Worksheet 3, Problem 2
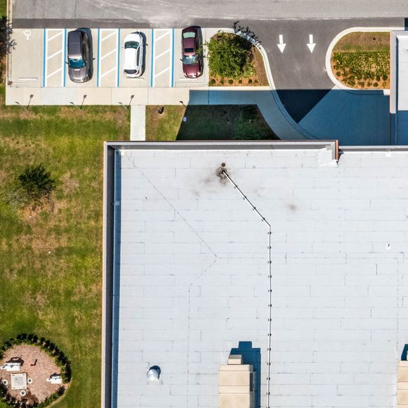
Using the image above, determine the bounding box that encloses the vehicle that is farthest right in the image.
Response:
[180,27,205,79]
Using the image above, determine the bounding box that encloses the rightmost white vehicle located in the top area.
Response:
[121,33,146,80]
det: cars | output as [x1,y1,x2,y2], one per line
[121,33,146,80]
[180,27,205,79]
[65,30,92,82]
